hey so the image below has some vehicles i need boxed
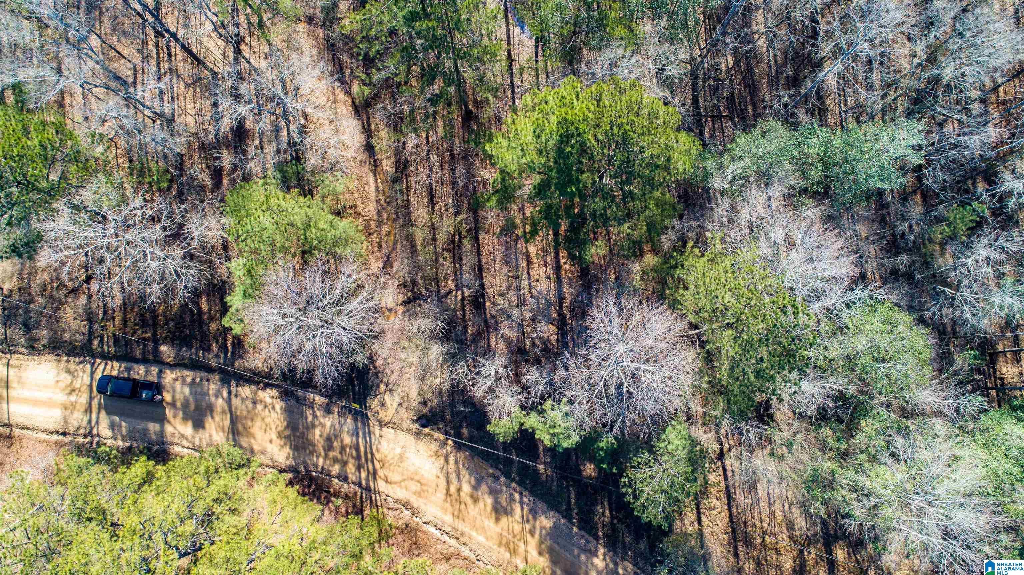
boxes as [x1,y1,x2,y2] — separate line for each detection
[93,375,163,404]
